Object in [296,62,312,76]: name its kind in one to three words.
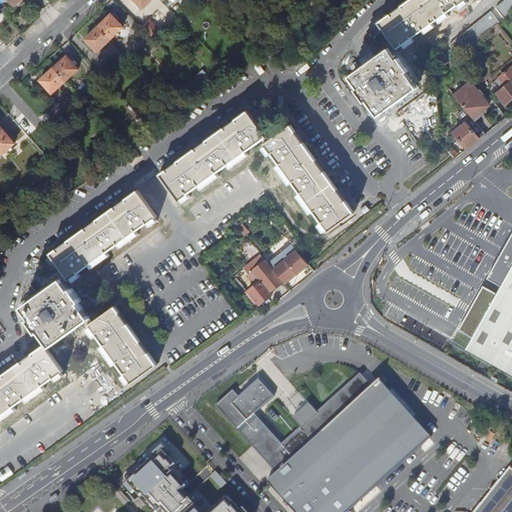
vehicle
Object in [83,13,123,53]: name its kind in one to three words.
house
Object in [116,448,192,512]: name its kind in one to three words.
building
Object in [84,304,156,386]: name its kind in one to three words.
building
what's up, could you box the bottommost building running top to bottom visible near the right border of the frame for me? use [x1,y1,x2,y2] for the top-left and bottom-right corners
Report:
[466,262,512,375]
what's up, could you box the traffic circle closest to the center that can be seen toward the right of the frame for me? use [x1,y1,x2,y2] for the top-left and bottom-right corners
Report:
[312,278,356,322]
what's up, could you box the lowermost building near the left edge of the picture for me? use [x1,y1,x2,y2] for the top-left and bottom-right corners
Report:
[0,346,66,420]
